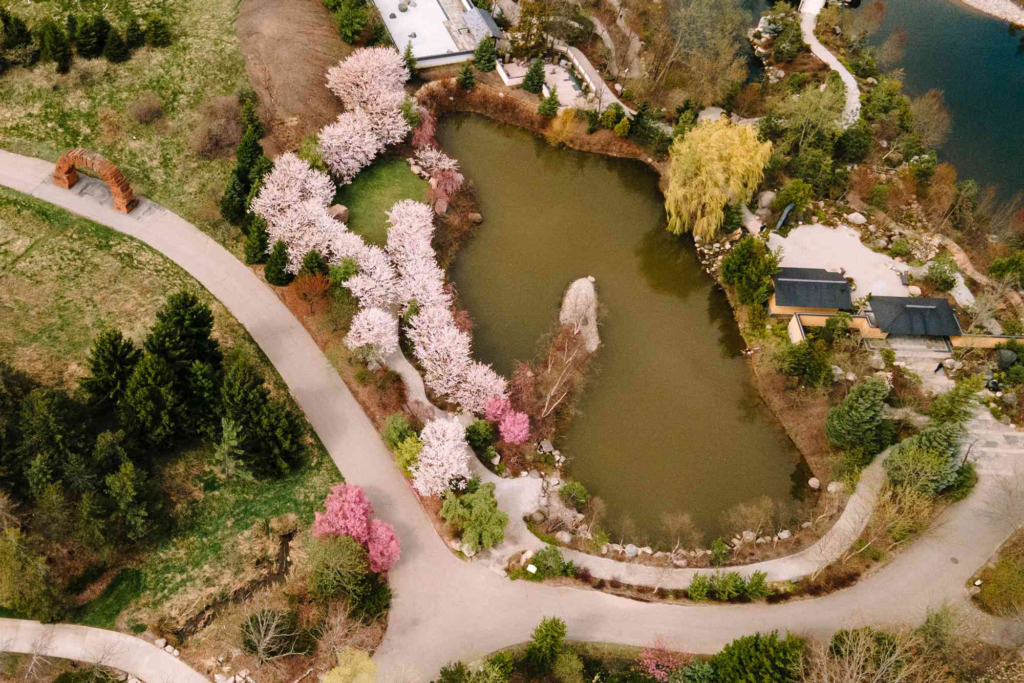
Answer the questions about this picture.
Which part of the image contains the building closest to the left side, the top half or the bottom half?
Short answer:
top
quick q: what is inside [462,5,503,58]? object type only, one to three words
building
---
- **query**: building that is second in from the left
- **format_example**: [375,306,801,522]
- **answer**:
[768,268,852,330]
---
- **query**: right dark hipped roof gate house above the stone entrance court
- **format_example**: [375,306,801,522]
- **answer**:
[870,296,964,360]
